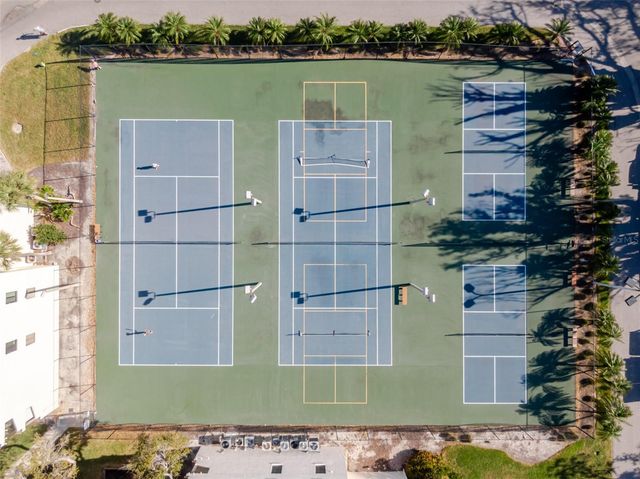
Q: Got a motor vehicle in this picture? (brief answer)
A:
No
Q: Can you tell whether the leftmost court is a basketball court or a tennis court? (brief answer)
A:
tennis court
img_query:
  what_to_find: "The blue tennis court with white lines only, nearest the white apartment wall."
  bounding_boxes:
[119,120,234,366]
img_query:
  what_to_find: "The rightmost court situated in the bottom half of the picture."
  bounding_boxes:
[462,265,526,405]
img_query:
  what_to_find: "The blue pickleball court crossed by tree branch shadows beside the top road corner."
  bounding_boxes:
[462,81,526,221]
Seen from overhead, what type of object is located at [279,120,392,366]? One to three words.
tennis court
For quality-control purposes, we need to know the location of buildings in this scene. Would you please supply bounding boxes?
[182,446,350,479]
[0,203,59,444]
